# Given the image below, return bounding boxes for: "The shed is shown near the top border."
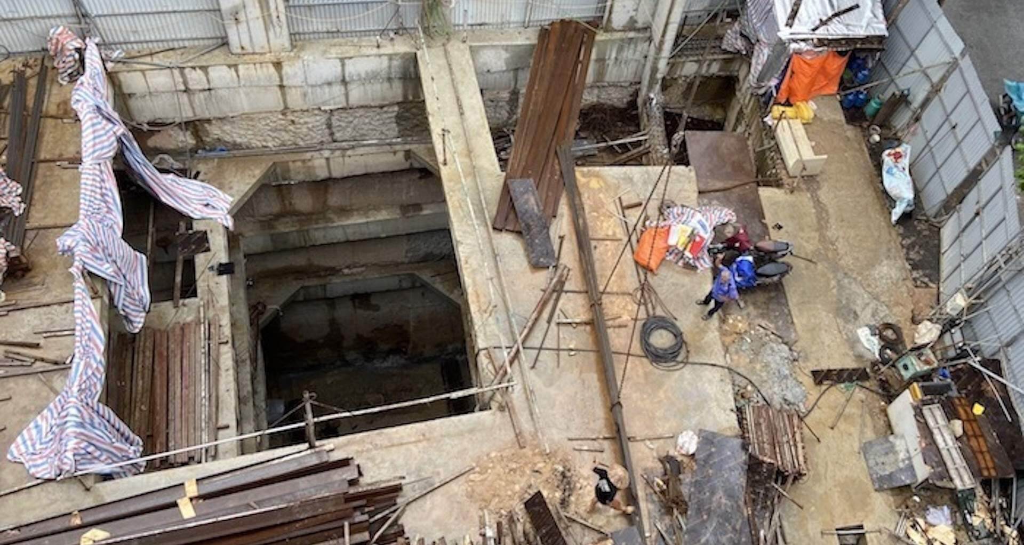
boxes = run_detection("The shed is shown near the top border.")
[728,0,885,103]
